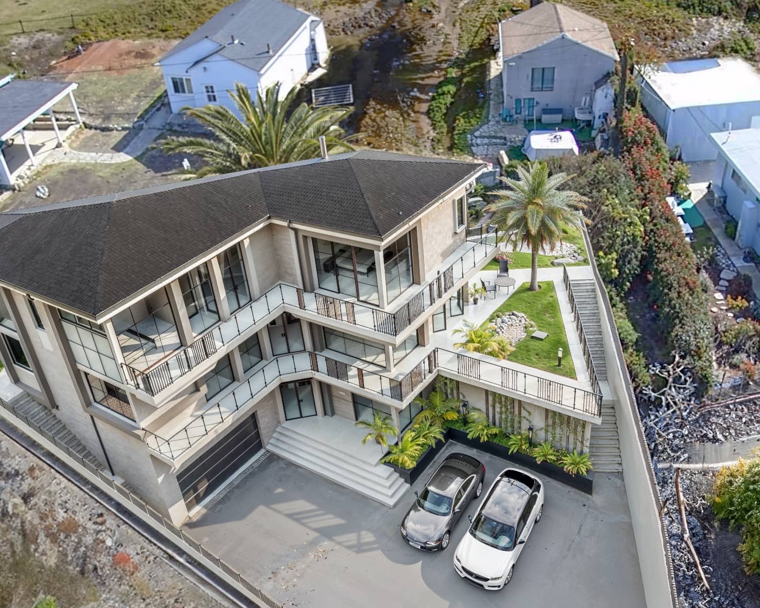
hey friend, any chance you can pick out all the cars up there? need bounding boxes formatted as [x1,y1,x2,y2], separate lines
[392,457,482,558]
[444,470,540,599]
